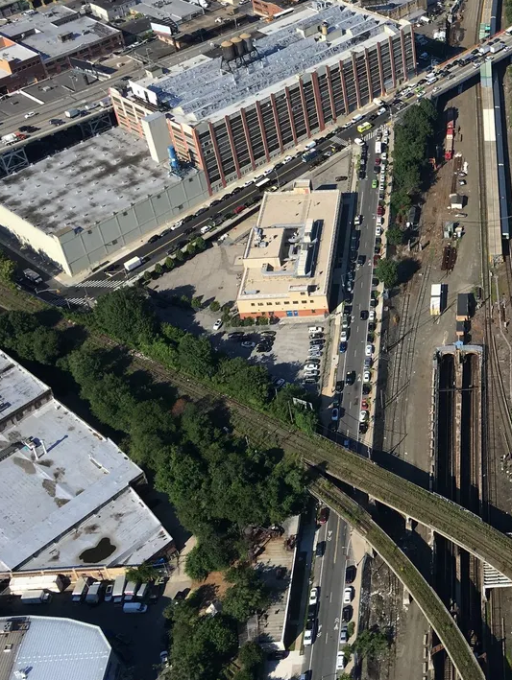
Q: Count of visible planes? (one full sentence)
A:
There are no planes in the image.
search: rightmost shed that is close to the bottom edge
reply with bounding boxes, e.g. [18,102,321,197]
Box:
[257,514,304,659]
